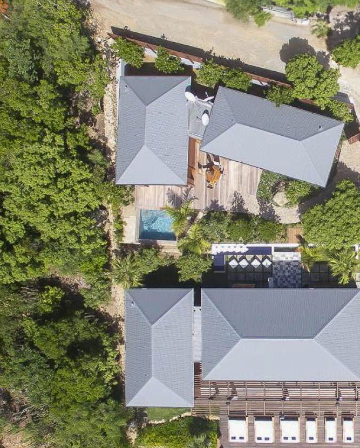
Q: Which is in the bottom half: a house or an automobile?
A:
house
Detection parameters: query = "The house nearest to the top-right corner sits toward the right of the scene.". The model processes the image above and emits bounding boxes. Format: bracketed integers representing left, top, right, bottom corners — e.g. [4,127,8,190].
[200,86,344,187]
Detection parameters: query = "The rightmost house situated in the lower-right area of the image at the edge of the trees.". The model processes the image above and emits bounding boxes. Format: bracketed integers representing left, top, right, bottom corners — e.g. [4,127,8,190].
[201,287,360,381]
